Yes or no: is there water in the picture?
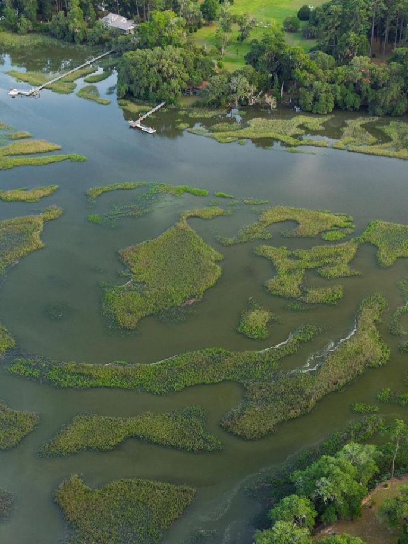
Yes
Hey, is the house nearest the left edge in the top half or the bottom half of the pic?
top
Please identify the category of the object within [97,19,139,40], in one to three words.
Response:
house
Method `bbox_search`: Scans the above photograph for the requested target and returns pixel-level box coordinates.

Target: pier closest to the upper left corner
[16,49,119,97]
